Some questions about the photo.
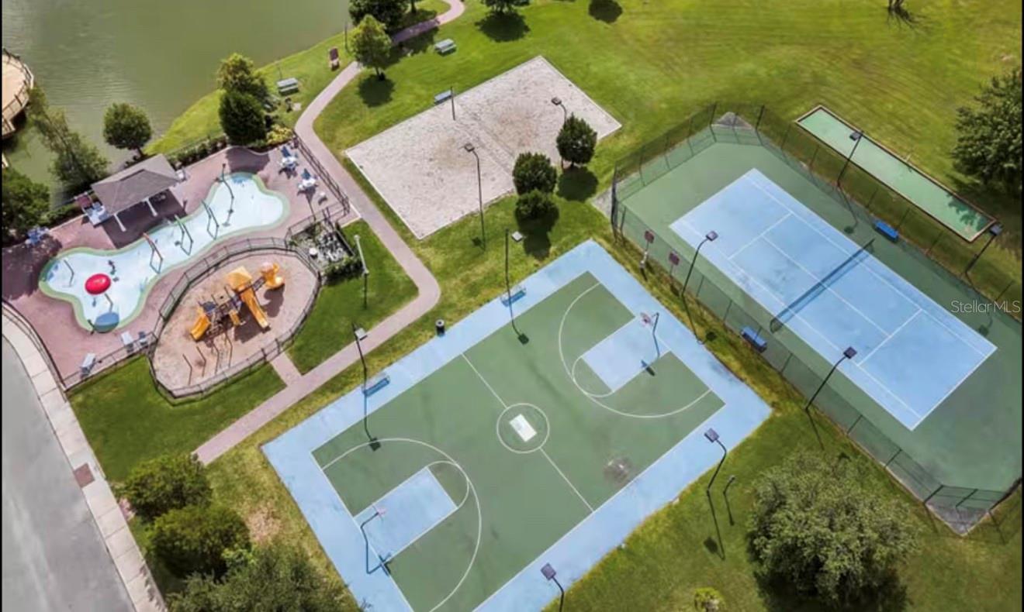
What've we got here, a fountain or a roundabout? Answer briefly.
fountain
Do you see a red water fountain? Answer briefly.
Yes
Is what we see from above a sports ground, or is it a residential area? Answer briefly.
sports ground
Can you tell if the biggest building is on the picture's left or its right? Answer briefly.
left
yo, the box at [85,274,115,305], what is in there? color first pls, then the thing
red fountain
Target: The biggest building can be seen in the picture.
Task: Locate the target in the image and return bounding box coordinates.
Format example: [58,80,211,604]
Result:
[90,154,183,230]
